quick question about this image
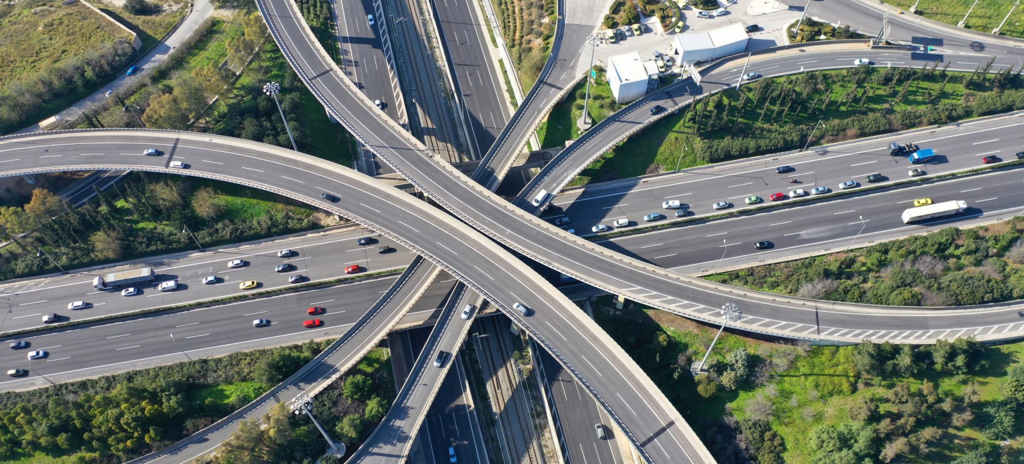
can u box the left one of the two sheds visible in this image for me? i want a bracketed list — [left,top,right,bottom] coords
[605,51,650,106]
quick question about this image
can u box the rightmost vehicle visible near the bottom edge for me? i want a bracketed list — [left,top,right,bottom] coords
[594,421,606,441]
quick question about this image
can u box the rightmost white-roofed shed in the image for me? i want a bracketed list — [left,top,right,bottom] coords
[674,22,750,67]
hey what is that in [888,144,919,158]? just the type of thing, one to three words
vehicle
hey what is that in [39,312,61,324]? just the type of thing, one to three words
vehicle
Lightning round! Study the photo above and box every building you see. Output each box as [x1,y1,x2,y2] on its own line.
[605,51,650,106]
[674,22,750,67]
